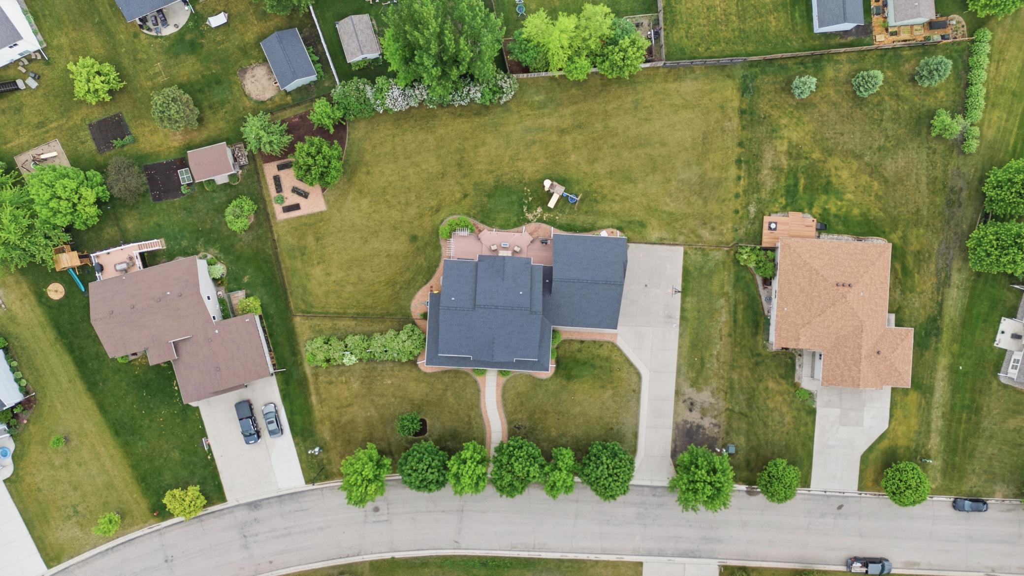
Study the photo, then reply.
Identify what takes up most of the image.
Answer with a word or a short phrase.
grass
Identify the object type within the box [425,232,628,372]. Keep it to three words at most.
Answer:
house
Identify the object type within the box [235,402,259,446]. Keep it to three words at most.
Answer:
truck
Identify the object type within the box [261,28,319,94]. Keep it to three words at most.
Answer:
shed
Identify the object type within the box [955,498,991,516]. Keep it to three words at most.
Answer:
car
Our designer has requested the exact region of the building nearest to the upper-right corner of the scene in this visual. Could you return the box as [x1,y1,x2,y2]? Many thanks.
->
[880,0,935,29]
